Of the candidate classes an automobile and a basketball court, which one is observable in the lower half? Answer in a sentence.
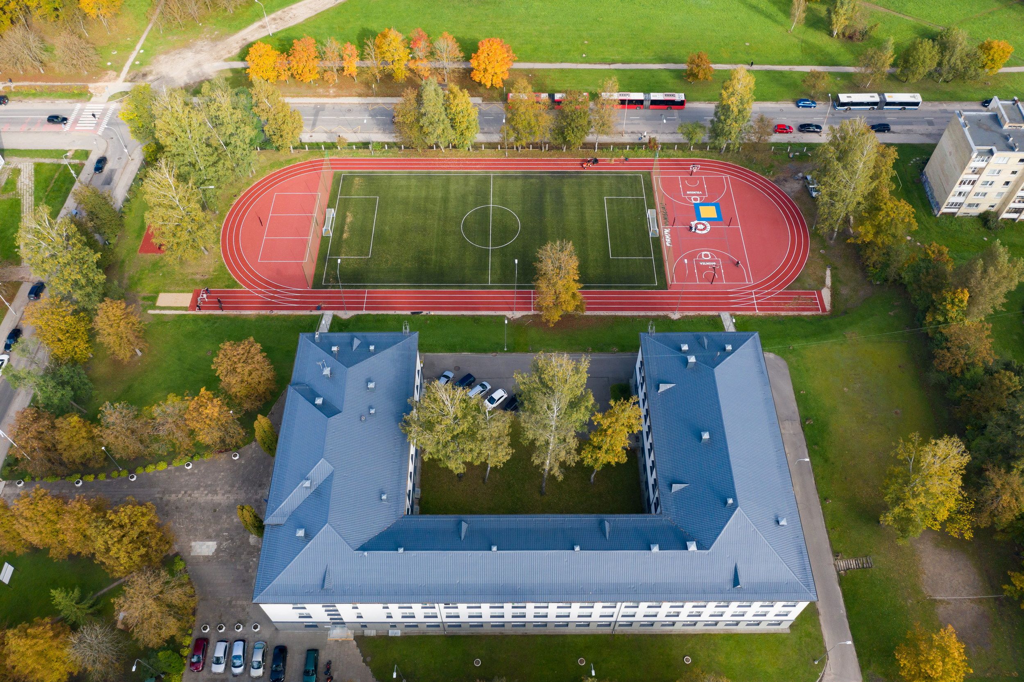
The feature located in the lower half is an automobile.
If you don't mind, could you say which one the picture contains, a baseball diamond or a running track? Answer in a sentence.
The image shows a running track.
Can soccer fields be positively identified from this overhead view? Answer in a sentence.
Yes, a soccer field is visible in the scene.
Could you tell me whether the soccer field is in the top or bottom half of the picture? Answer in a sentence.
It is in the top half that the soccer field appears.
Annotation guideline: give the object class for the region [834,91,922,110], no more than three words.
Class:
vehicle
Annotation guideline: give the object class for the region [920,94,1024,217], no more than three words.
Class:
building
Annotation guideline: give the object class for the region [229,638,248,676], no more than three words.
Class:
car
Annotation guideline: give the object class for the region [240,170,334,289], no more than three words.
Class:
sports court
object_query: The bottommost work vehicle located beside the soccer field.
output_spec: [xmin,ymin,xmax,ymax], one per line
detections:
[583,155,601,170]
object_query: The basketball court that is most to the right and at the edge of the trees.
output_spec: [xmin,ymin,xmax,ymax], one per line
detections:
[651,171,790,290]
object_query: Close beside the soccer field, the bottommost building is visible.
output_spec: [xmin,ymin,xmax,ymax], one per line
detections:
[248,324,819,651]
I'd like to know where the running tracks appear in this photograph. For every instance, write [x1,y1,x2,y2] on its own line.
[189,158,828,312]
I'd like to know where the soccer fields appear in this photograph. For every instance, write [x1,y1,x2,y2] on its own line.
[311,170,668,290]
